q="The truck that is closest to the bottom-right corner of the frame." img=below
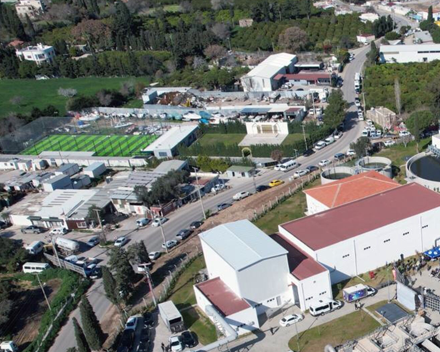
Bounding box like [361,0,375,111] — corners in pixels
[342,281,377,303]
